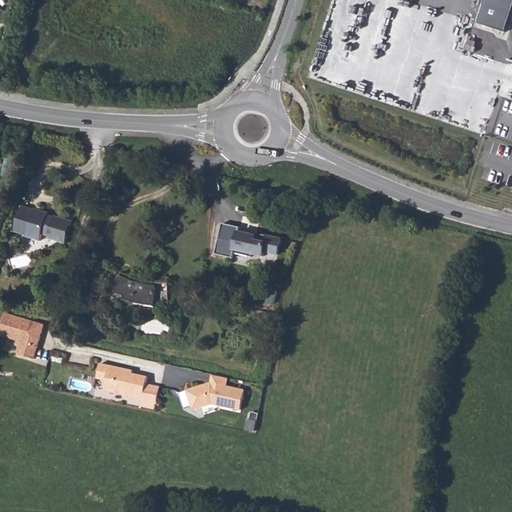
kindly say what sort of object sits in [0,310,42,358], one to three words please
house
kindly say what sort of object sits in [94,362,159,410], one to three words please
house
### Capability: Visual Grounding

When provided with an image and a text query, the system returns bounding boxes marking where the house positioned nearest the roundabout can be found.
[214,222,282,257]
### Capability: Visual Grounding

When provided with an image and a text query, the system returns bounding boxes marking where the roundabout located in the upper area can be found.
[192,70,311,168]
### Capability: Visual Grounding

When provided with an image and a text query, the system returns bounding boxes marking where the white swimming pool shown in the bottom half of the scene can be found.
[66,376,96,394]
